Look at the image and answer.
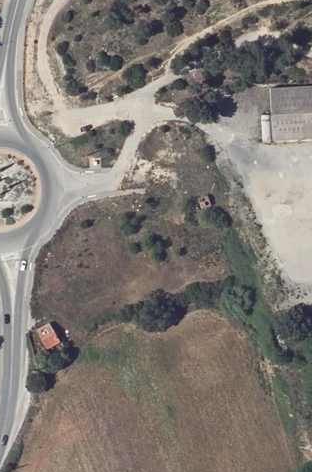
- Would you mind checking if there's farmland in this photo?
Yes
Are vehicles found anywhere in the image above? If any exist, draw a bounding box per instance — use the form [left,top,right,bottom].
[4,314,10,324]
[81,124,92,132]
[20,260,26,270]
[2,434,8,445]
